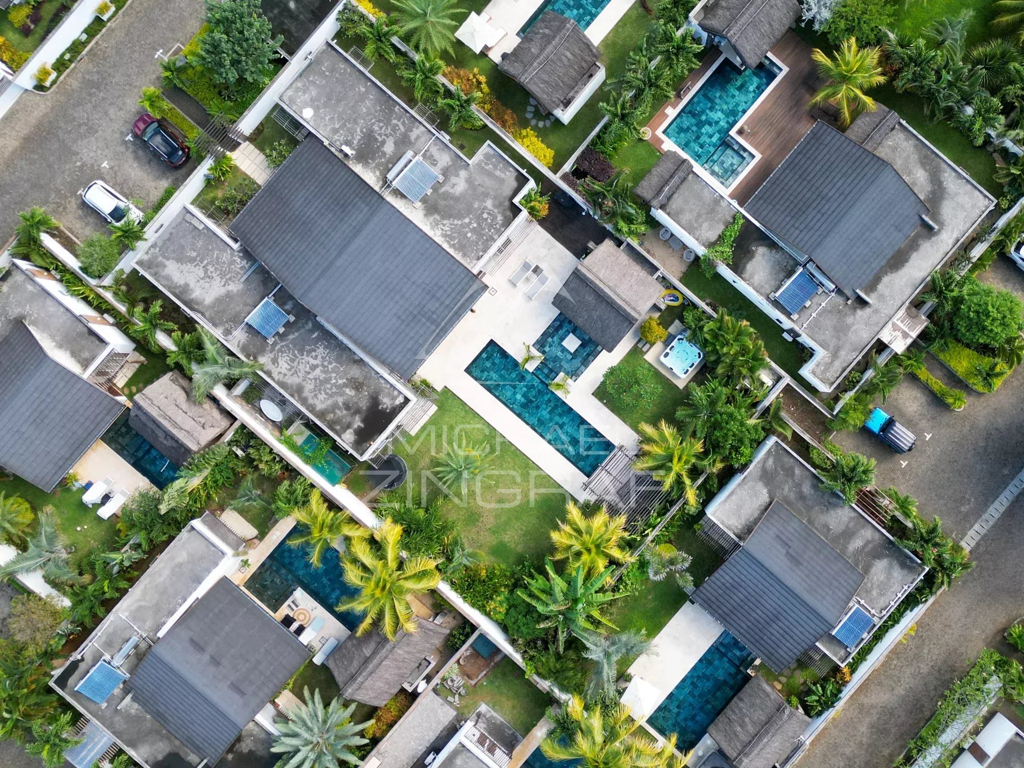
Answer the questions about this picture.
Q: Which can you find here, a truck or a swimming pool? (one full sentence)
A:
There is a swimming pool in the scene.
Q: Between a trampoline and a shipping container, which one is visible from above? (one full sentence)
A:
I can see a trampoline in this picture.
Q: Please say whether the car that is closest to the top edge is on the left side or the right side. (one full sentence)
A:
The car that is closest to the top edge appears in the left half of the scene.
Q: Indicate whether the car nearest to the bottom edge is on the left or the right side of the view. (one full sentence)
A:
You can find the car nearest to the bottom edge on the right side of the picture.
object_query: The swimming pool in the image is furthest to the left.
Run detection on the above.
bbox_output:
[102,409,182,487]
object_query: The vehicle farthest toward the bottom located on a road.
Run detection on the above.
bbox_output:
[857,401,928,460]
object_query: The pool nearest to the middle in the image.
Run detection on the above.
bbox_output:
[464,313,615,478]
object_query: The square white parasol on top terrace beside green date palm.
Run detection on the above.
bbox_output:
[454,11,491,58]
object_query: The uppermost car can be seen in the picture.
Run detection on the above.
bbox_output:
[131,112,196,171]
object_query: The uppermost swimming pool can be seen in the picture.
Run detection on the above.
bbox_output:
[518,0,612,36]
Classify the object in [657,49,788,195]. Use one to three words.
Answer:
swimming pool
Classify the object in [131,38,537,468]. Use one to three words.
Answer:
house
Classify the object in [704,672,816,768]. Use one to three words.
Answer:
building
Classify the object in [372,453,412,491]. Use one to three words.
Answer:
trampoline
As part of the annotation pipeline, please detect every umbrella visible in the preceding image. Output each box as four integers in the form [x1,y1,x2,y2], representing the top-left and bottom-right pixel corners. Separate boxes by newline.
[454,11,491,58]
[620,666,661,720]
